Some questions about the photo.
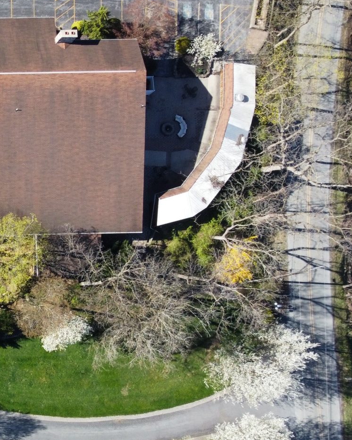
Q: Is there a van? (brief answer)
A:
No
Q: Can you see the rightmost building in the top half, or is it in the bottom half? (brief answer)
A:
top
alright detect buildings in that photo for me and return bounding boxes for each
[0,17,157,281]
[146,64,256,228]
